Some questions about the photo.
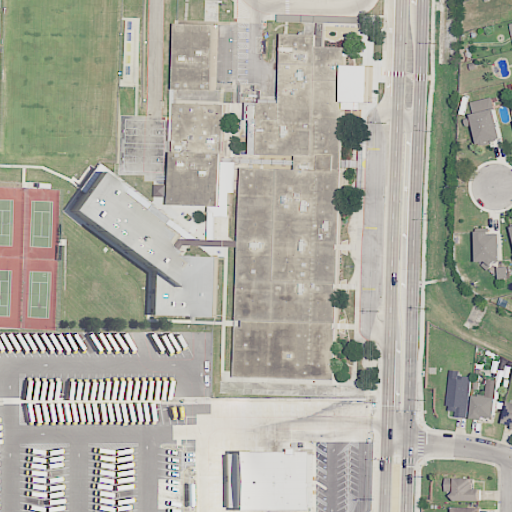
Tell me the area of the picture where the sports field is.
top left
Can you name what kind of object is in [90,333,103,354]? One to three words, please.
vehicle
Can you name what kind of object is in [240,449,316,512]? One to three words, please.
building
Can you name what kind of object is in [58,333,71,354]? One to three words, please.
vehicle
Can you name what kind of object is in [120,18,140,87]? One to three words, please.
sports court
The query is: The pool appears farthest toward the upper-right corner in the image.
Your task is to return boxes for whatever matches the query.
[492,58,512,79]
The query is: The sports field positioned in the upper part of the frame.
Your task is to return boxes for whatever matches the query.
[2,0,118,165]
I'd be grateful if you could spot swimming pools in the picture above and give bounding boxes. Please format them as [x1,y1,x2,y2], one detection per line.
[492,58,512,79]
[498,105,512,126]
